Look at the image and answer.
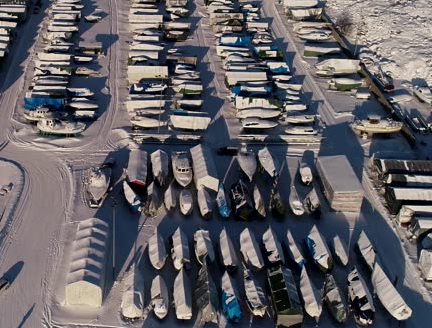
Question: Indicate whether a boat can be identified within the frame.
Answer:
Yes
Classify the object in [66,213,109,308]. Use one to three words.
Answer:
tent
